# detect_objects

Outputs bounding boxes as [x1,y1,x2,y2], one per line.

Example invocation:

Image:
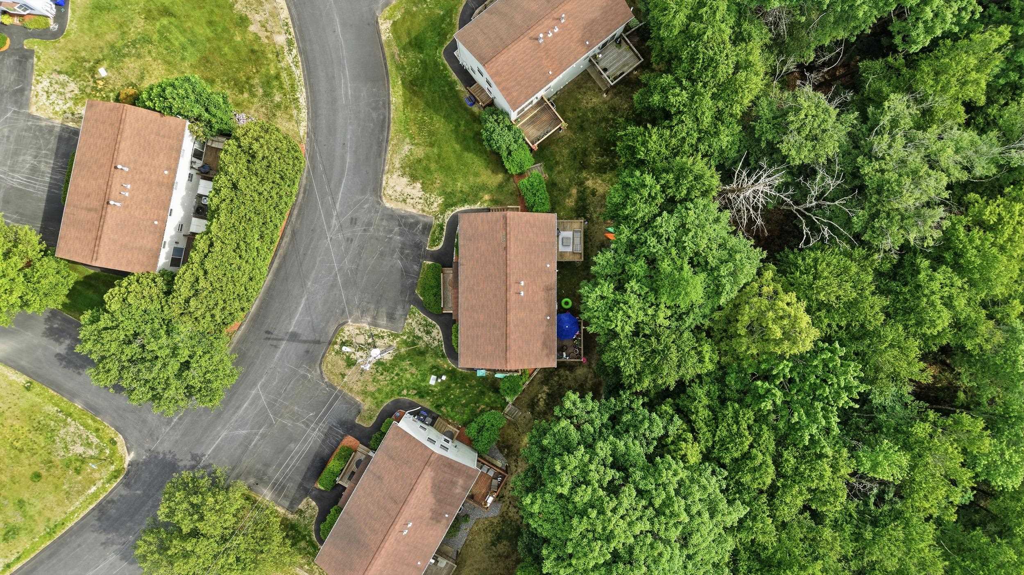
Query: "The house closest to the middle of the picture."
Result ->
[441,208,583,373]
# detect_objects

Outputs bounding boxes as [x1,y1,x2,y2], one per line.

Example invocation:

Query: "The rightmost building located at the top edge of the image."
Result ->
[454,0,643,150]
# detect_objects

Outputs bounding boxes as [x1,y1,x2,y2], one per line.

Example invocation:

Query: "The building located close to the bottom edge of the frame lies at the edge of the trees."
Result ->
[314,410,508,575]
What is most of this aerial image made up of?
trees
